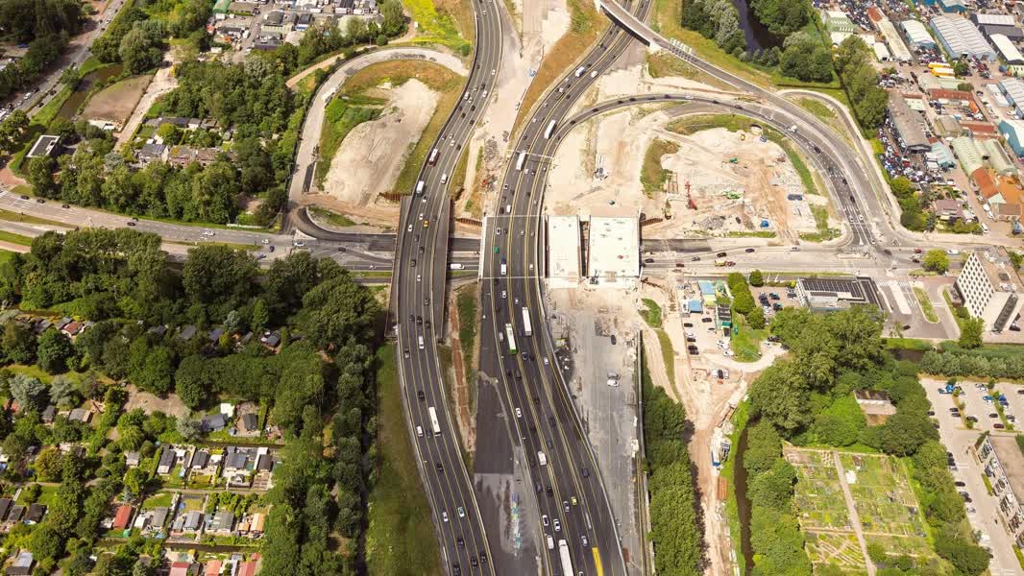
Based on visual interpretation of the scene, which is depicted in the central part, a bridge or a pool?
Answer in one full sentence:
The one visible in the central part is a bridge.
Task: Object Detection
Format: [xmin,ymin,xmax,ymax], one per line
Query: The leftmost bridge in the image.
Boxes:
[384,196,451,340]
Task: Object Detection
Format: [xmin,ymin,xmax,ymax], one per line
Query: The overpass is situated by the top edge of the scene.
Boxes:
[593,0,673,53]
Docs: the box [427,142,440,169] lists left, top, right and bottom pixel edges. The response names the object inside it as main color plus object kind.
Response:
white vehicle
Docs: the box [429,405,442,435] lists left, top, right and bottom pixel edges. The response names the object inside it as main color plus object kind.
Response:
white vehicle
